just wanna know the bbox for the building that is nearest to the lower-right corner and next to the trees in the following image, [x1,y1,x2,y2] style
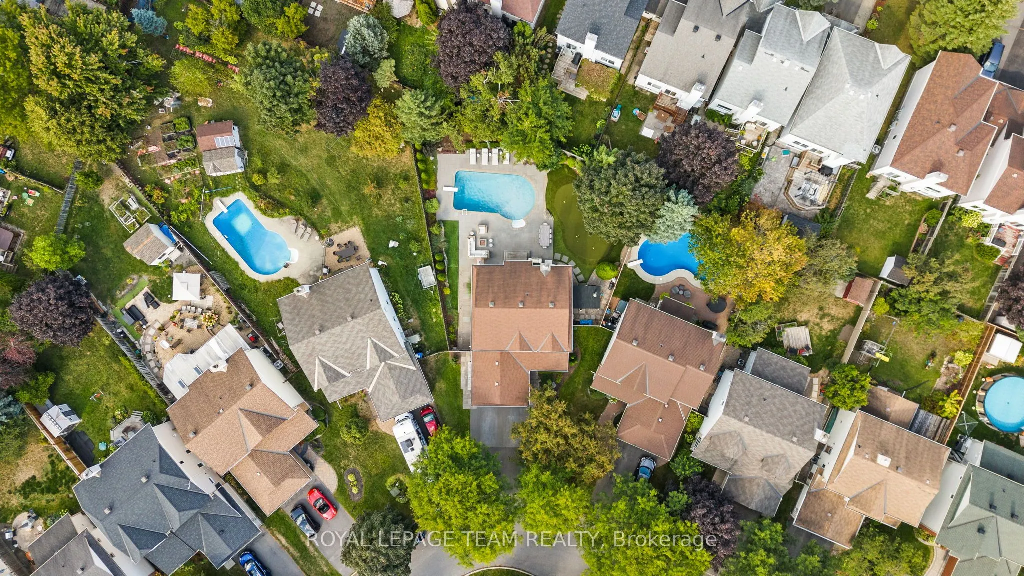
[920,438,1024,576]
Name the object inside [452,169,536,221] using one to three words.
swimming pool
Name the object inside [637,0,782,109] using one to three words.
house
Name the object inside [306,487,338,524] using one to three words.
car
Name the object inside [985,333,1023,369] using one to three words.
shed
